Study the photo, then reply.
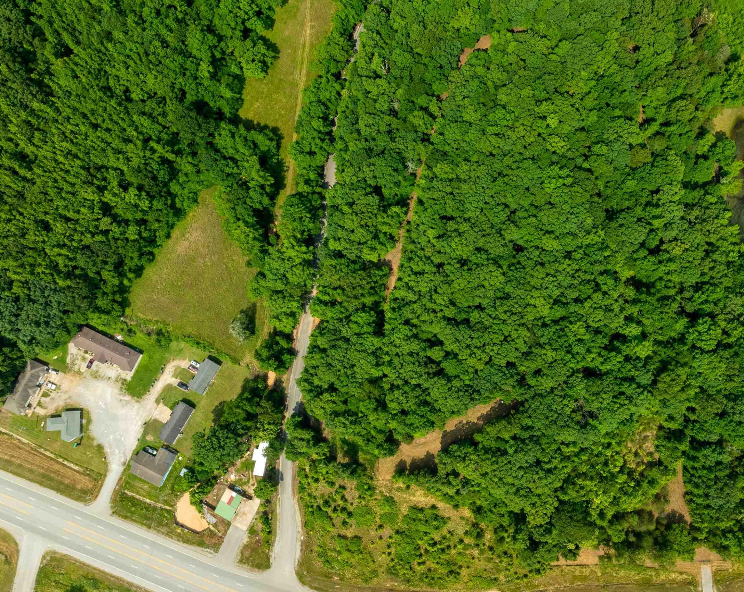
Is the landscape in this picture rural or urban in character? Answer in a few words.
rural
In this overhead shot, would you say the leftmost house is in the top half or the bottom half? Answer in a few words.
bottom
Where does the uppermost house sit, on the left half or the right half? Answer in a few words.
left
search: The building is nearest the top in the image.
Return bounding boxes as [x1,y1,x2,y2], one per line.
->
[75,326,146,374]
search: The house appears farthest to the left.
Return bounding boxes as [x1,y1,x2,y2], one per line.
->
[3,359,54,415]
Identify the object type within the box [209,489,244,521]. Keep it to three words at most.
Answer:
building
